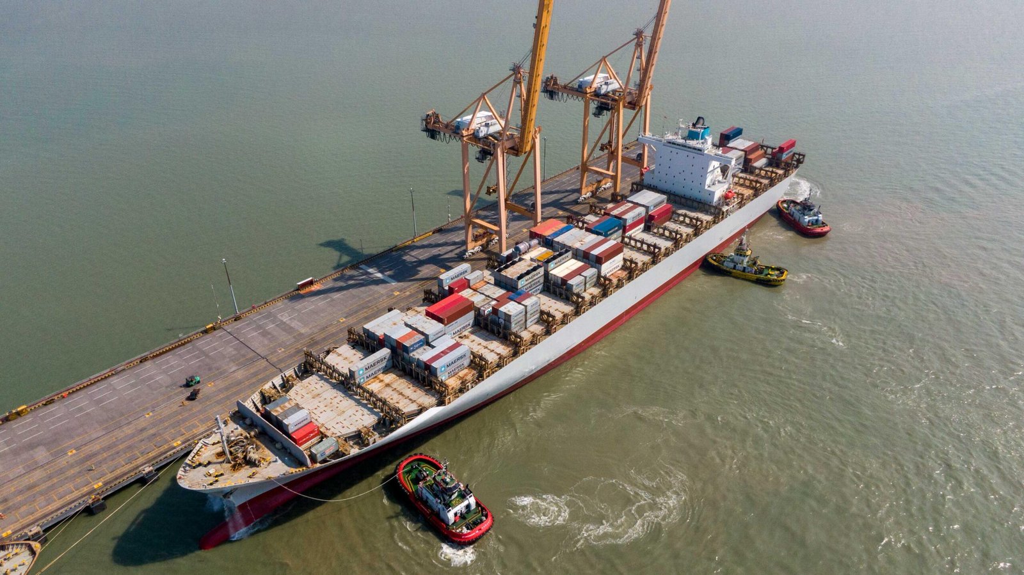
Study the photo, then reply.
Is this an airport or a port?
port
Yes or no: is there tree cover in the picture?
No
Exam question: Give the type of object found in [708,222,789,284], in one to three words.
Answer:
boat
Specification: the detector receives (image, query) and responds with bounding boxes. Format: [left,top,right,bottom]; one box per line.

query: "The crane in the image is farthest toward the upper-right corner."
[540,0,669,206]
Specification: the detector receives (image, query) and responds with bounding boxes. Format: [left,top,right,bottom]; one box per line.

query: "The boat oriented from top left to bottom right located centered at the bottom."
[396,450,499,545]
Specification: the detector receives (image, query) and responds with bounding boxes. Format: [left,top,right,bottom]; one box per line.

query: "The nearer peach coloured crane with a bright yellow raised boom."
[418,0,551,262]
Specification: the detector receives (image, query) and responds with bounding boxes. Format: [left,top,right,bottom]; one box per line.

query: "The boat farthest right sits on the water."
[777,186,835,237]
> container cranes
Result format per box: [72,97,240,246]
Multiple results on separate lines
[418,0,551,262]
[540,0,669,206]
